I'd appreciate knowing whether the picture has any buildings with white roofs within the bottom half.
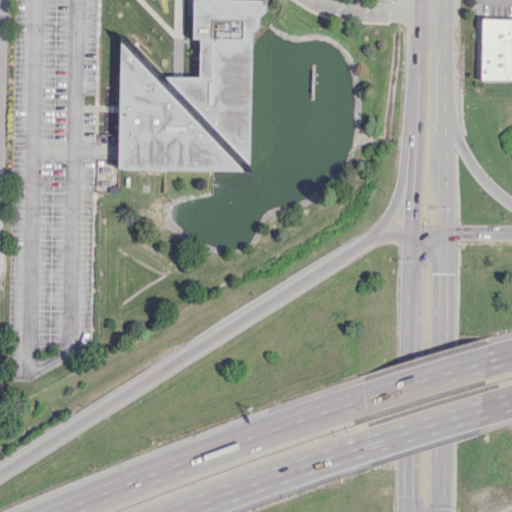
No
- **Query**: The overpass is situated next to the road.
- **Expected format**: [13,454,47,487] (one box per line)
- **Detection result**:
[364,338,484,468]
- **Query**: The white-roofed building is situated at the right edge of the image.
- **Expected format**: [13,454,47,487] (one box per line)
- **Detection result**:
[480,18,512,83]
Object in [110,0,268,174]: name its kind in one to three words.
building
